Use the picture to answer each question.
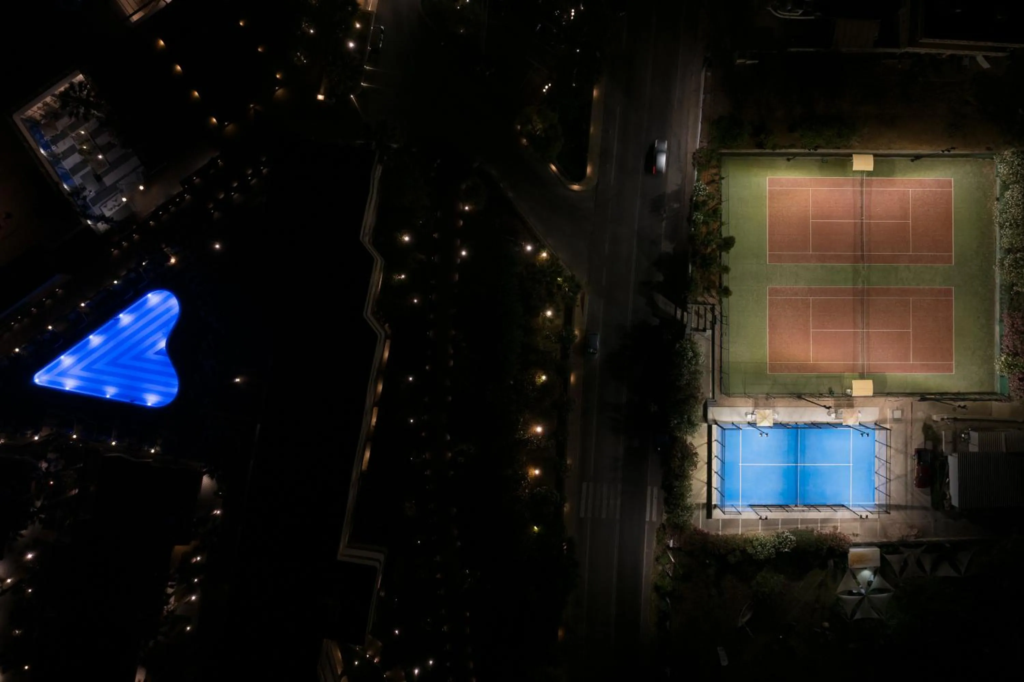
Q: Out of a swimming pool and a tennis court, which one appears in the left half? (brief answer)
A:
swimming pool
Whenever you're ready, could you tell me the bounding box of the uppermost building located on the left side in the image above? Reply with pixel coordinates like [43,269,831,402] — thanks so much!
[122,0,188,31]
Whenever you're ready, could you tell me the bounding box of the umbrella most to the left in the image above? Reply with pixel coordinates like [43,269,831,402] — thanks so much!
[756,410,772,426]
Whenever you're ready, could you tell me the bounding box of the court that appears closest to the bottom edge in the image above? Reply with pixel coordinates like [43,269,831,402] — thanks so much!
[715,423,892,515]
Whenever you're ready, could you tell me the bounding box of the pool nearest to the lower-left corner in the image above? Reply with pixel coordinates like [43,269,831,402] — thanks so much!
[31,288,182,410]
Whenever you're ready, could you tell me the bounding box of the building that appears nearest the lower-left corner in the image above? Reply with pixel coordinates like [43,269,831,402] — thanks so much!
[69,464,210,633]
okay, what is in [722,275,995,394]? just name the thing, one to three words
tennis court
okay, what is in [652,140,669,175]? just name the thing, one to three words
car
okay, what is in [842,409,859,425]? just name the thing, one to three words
umbrella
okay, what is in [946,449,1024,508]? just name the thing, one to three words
shed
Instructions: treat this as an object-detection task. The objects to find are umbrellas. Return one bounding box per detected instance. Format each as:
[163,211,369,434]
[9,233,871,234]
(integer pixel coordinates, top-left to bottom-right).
[756,410,772,426]
[842,409,859,425]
